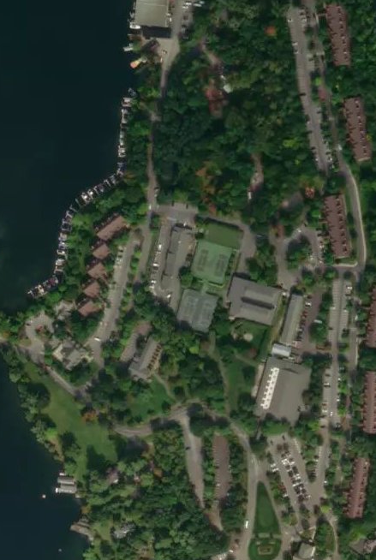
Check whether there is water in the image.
Yes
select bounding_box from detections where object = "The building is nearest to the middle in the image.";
[163,226,196,284]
